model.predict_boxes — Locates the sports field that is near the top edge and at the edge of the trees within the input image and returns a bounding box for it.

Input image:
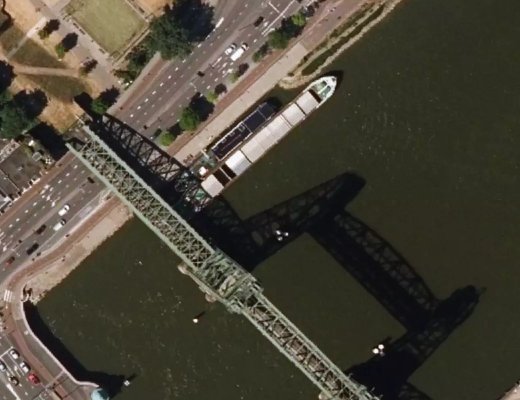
[67,0,150,58]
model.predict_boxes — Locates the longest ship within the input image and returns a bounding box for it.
[183,76,338,211]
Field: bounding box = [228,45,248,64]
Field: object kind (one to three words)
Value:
vehicle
